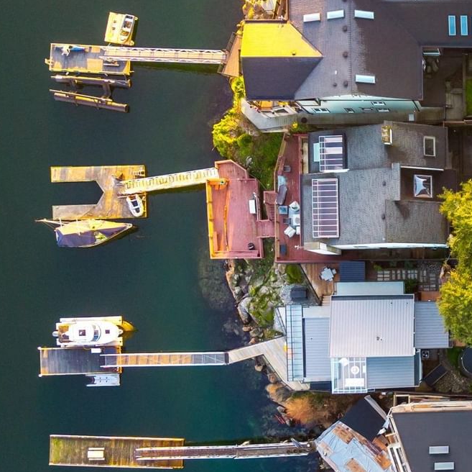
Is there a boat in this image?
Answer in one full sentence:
Yes, there's a boat here.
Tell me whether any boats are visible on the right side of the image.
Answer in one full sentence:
No, on the right side of the image there is no boat.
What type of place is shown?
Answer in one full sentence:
This looks like a residential area.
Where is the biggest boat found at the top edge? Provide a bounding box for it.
[102,9,138,44]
